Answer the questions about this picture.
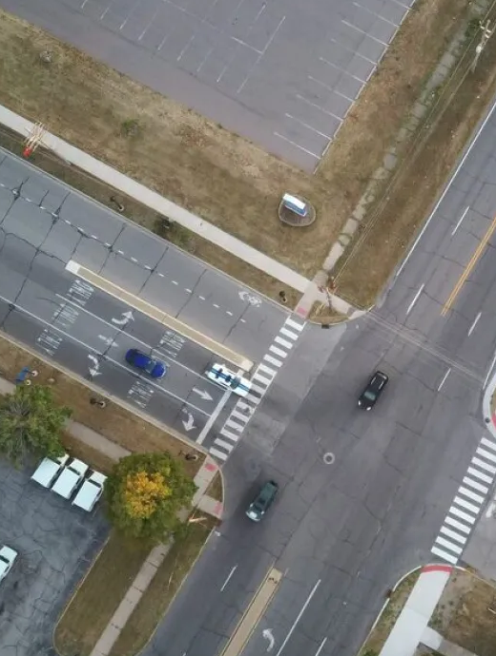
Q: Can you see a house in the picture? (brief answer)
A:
No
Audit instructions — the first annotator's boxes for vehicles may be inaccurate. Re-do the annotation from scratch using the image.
[50,456,94,500]
[30,447,75,490]
[124,347,168,377]
[359,369,390,412]
[71,469,113,512]
[204,363,252,397]
[246,479,282,523]
[0,543,21,585]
